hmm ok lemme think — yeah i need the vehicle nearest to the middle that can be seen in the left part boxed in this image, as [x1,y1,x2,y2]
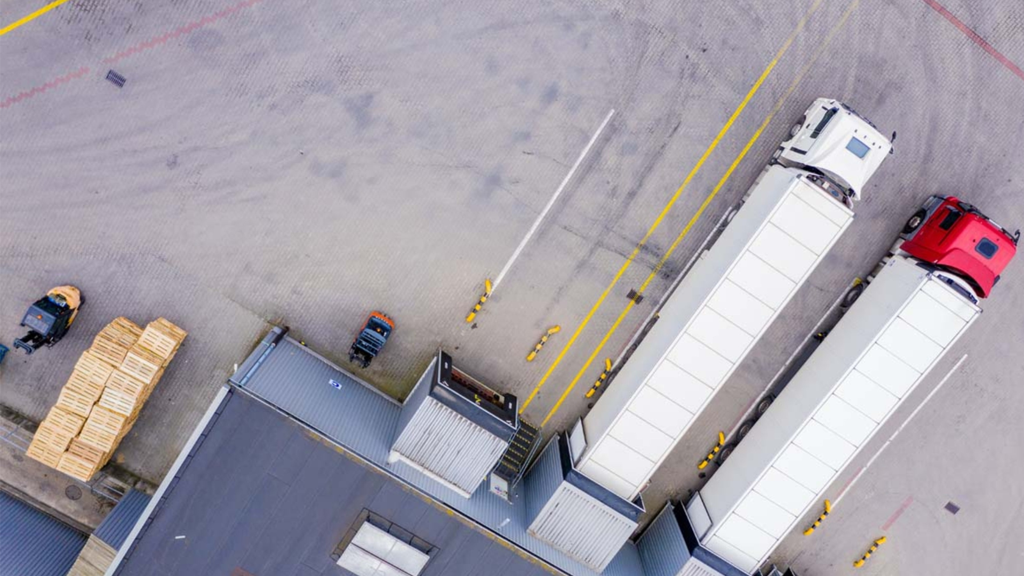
[348,308,396,369]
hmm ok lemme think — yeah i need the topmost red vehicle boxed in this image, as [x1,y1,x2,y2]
[878,196,1011,297]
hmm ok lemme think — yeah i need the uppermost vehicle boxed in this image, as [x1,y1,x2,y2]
[762,99,892,203]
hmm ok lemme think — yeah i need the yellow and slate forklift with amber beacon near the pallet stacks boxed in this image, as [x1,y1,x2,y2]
[11,283,87,355]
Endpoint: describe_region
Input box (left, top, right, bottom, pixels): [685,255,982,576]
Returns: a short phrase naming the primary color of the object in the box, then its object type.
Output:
white trailer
